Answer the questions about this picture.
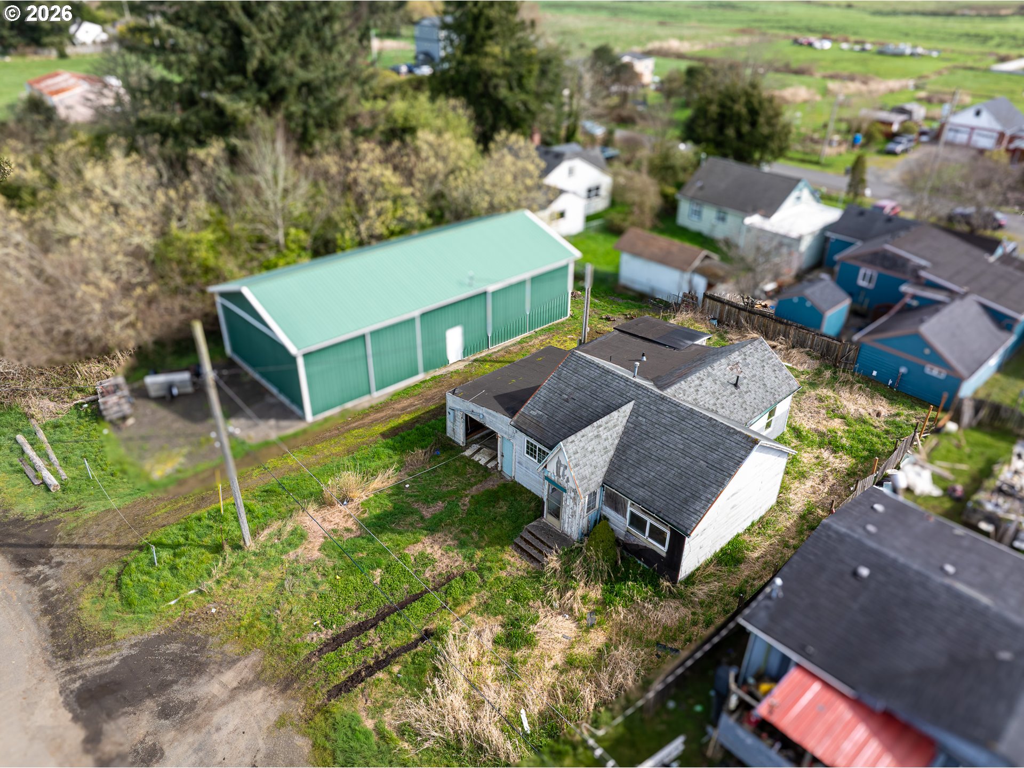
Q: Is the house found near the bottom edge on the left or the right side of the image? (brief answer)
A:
right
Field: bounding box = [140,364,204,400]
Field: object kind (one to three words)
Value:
trailer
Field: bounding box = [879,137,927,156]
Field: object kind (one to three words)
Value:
vehicle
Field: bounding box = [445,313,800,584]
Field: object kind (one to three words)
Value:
house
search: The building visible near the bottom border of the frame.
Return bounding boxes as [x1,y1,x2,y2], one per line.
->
[698,488,1024,768]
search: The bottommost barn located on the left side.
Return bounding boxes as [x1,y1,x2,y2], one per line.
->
[205,207,582,423]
